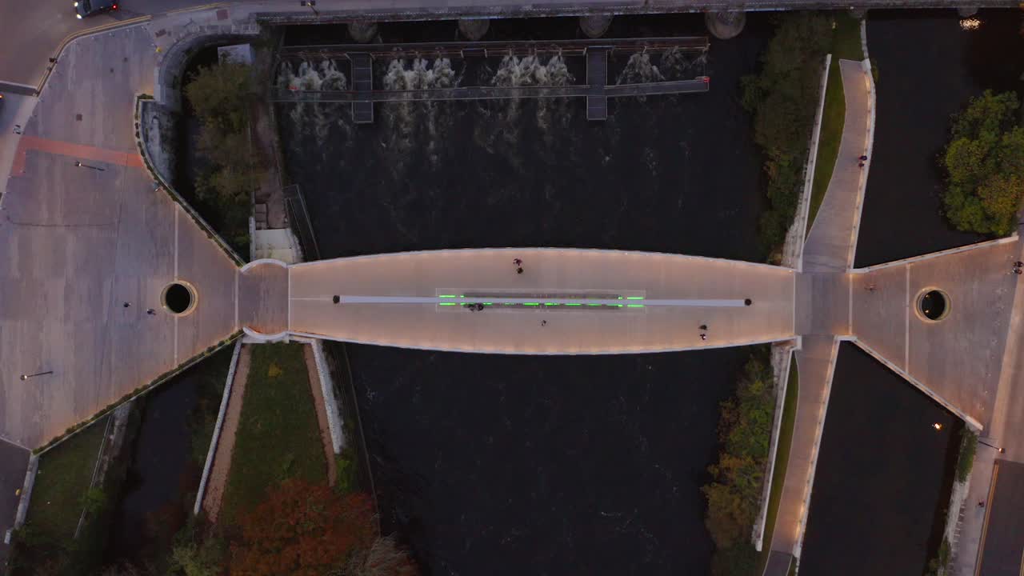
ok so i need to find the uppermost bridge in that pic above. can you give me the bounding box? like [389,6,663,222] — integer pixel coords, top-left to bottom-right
[225,0,1024,56]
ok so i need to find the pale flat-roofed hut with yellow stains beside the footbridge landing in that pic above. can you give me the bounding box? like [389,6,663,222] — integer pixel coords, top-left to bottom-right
[257,228,293,262]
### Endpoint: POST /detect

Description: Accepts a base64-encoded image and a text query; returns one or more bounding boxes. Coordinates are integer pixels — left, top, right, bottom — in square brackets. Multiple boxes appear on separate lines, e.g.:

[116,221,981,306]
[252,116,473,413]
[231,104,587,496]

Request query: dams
[267,36,712,126]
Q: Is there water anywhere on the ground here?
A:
Yes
